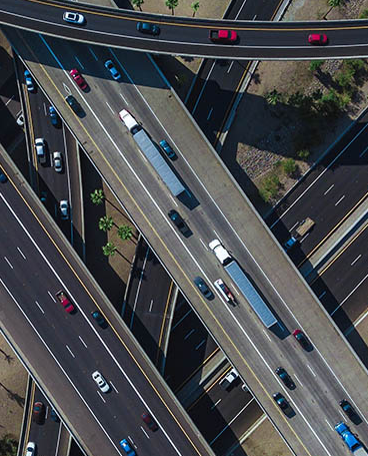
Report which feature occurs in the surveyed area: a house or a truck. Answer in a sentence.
There is a truck in the scene.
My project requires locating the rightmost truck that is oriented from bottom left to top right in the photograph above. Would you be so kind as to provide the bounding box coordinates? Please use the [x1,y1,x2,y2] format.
[284,216,315,247]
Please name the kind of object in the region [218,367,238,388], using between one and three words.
vehicle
